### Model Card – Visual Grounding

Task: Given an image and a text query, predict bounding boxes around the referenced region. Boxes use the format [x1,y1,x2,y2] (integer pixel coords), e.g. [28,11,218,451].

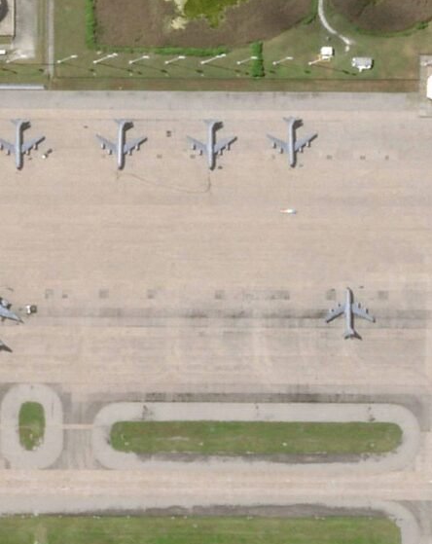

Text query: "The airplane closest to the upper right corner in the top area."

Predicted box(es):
[268,115,317,168]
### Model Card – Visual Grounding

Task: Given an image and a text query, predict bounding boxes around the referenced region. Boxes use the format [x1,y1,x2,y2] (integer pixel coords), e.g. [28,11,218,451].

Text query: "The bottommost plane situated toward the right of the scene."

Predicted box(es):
[325,288,375,339]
